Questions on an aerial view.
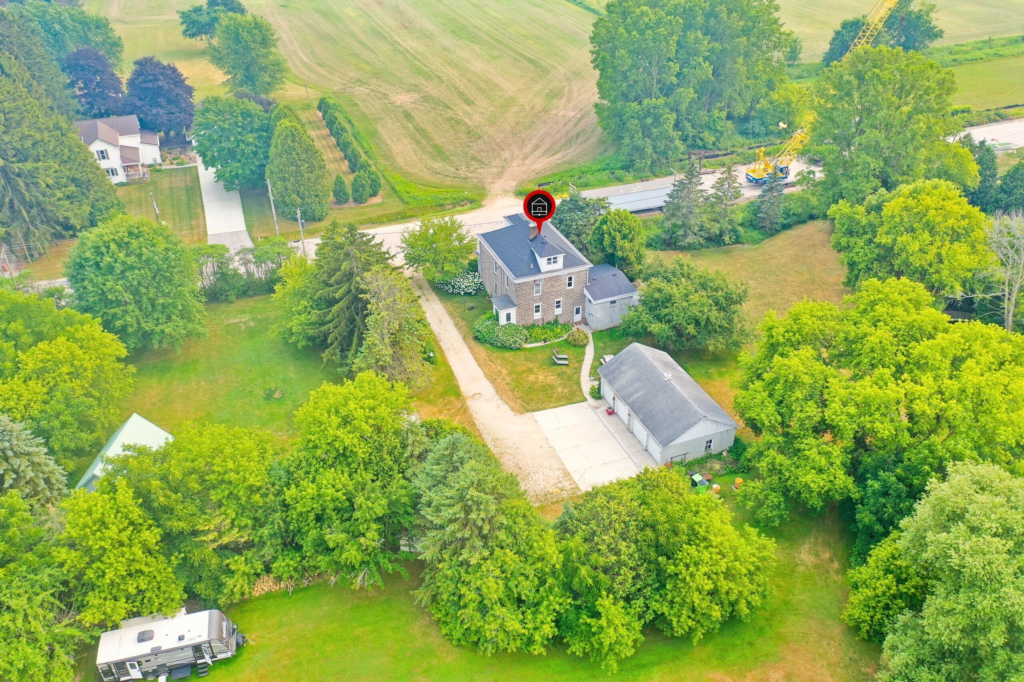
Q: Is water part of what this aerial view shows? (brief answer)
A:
No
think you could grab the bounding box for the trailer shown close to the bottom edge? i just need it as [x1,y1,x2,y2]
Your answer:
[96,607,253,682]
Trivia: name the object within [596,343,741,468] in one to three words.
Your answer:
building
